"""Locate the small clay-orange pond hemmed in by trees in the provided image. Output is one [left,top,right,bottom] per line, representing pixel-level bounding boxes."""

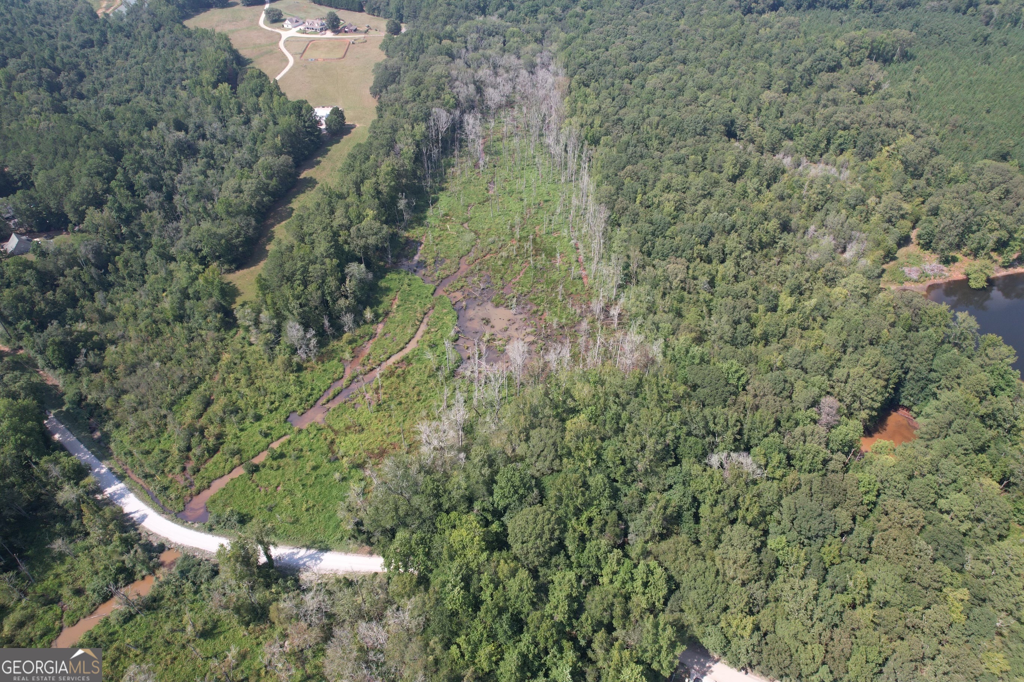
[859,410,914,462]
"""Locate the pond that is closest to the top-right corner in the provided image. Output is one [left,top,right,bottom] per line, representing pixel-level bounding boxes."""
[924,272,1024,398]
